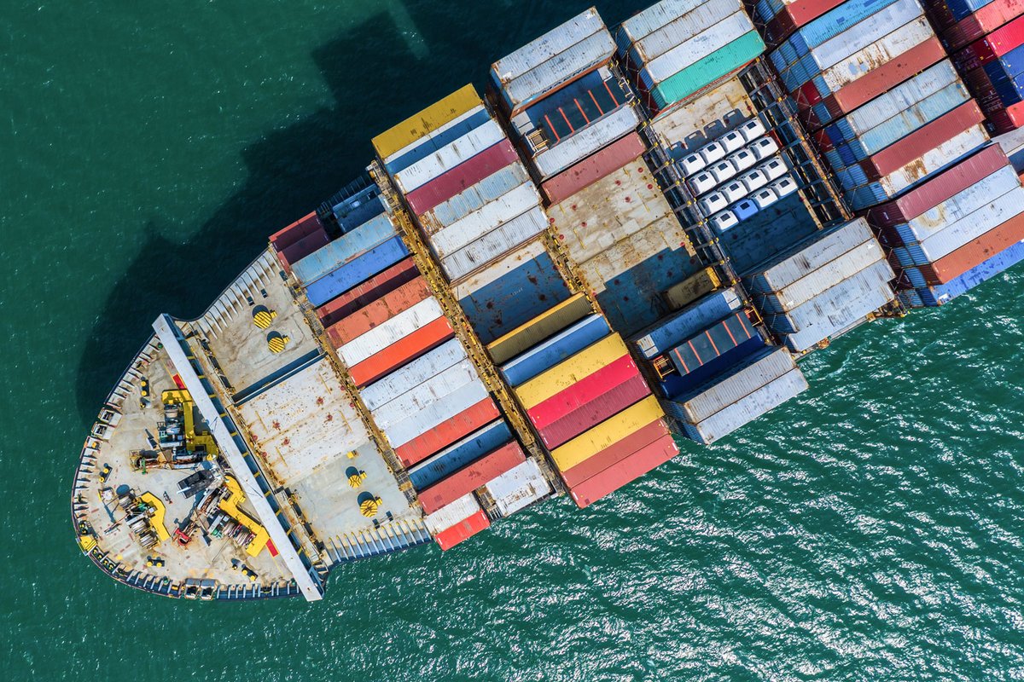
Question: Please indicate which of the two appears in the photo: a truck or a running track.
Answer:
truck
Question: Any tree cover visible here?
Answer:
No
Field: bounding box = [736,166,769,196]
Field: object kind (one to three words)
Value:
truck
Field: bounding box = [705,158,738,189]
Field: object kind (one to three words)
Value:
truck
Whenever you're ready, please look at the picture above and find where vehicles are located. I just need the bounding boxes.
[716,177,748,208]
[695,139,727,170]
[727,196,759,227]
[734,116,767,147]
[747,185,779,216]
[705,158,738,189]
[684,170,717,201]
[736,166,769,196]
[746,135,778,166]
[725,146,758,178]
[767,173,800,204]
[673,151,706,183]
[694,189,728,220]
[755,154,789,185]
[715,128,748,158]
[705,208,738,239]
